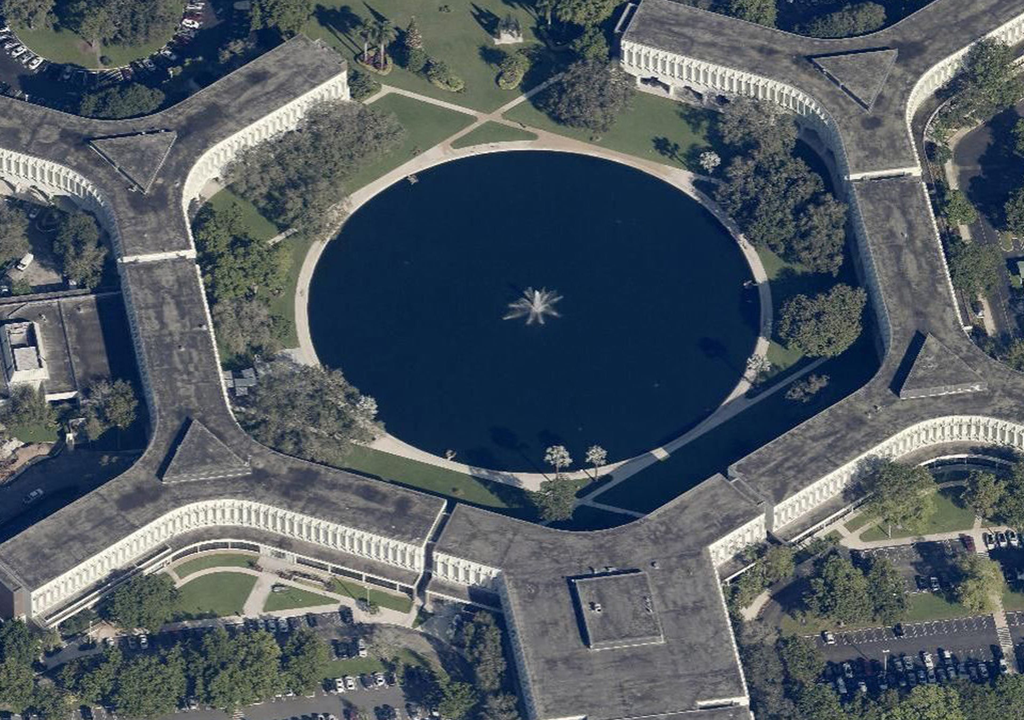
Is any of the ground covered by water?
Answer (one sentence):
Yes, water can be seen from above here.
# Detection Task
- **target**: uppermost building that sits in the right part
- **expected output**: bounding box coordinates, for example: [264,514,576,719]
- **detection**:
[621,0,1024,211]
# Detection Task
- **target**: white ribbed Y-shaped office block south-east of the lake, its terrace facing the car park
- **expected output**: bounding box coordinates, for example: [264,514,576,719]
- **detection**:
[728,172,1024,550]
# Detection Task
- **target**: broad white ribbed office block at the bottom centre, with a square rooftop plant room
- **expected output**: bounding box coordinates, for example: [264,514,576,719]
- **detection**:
[425,473,767,720]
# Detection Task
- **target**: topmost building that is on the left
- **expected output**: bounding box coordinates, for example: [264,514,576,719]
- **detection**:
[0,33,355,294]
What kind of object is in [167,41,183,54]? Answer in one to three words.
vehicle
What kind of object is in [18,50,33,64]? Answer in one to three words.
car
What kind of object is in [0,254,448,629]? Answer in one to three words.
building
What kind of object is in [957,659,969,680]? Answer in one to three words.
vehicle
